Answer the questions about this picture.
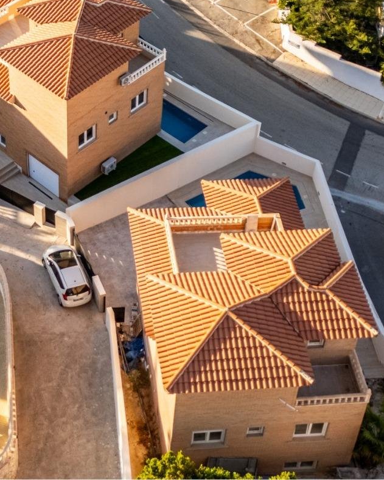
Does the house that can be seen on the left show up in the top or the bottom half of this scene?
top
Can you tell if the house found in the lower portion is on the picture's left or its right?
right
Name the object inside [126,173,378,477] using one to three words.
house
